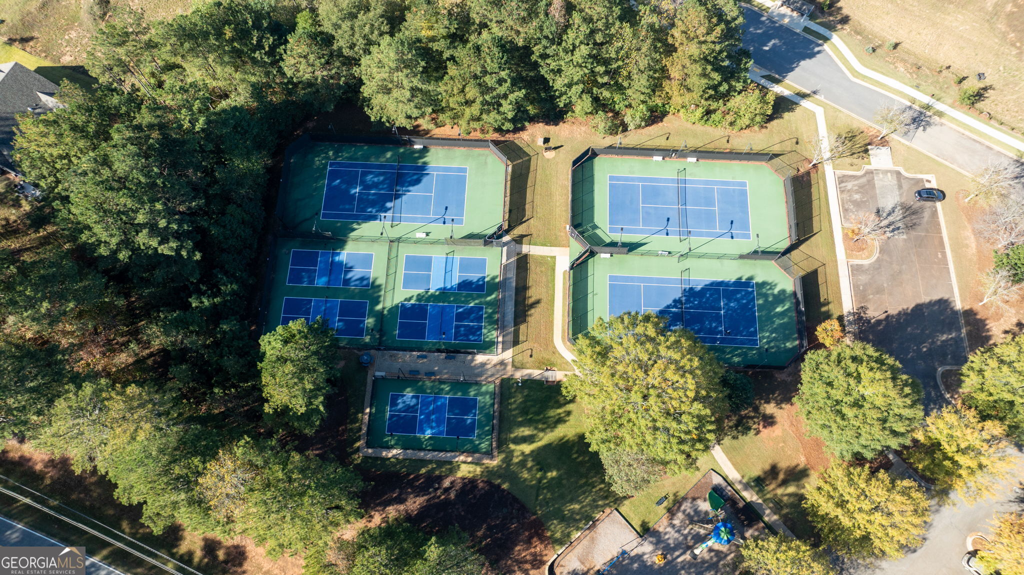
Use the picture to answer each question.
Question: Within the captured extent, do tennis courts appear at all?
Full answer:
Yes, looking at the shot, I can spot a tennis court.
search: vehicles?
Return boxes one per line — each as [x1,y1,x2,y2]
[961,555,986,575]
[914,189,944,203]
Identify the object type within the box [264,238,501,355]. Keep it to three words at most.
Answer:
sports court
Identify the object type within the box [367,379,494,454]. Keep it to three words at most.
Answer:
sports court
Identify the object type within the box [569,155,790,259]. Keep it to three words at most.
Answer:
tennis court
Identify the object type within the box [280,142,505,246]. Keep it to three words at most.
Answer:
tennis court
